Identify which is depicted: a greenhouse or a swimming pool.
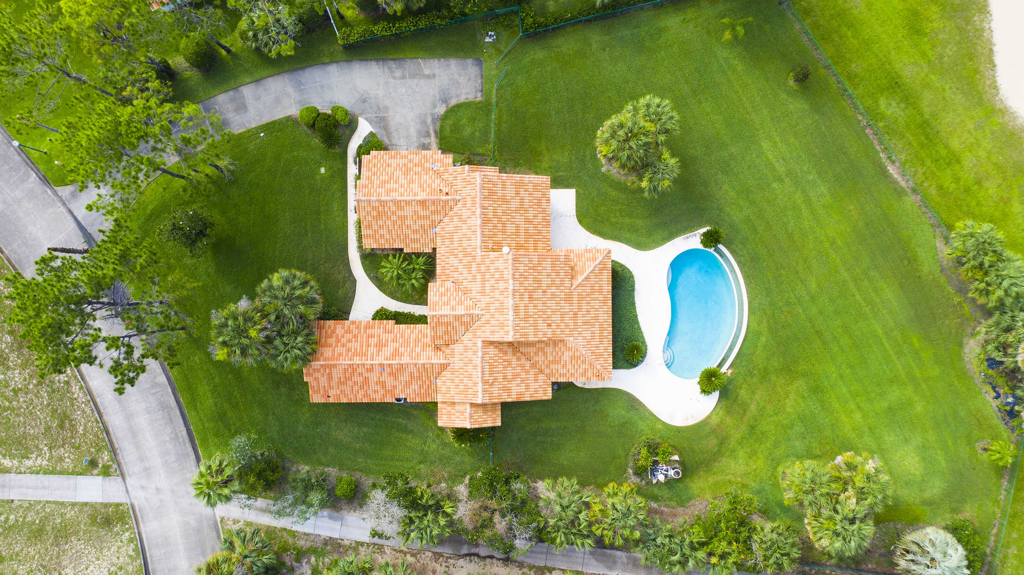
swimming pool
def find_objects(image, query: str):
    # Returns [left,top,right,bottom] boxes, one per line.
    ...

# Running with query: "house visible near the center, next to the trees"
[304,150,613,429]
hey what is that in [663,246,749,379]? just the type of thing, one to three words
swimming pool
